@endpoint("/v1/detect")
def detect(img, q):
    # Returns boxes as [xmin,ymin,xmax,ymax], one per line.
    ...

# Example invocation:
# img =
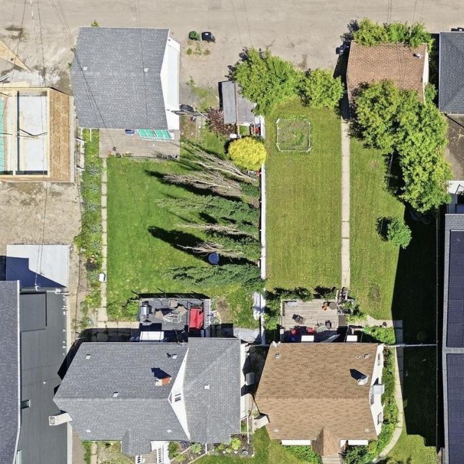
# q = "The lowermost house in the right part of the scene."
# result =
[247,336,391,464]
